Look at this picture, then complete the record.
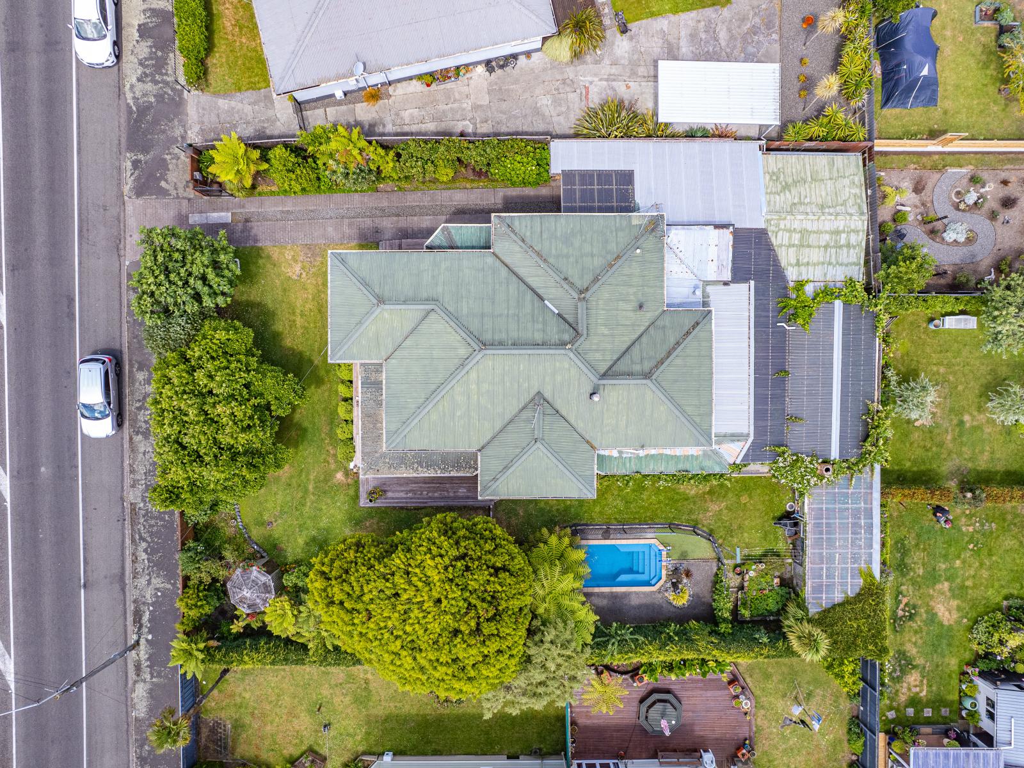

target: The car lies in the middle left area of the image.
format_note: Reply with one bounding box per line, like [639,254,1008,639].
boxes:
[73,355,125,438]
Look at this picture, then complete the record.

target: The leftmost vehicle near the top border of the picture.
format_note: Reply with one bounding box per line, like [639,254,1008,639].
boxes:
[69,0,122,69]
